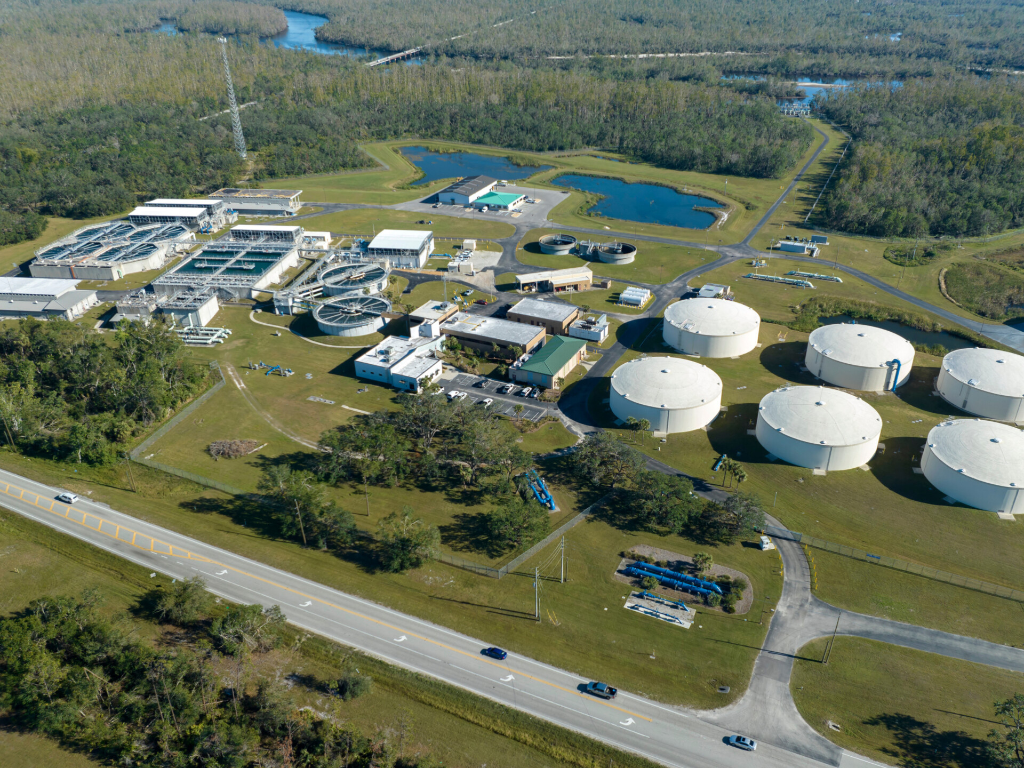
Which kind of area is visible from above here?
industrial area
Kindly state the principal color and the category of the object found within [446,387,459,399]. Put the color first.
white vehicle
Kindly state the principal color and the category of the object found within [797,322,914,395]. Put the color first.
white storage tank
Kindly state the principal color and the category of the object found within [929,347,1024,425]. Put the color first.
white storage tank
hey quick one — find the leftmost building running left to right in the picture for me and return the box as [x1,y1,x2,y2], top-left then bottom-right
[0,275,104,324]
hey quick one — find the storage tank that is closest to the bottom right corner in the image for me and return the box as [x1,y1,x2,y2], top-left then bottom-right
[906,419,1024,522]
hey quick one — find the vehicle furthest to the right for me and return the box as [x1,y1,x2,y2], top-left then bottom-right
[728,733,757,752]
